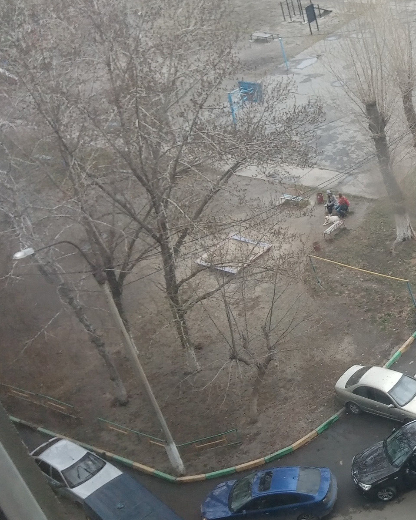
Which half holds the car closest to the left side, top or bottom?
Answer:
bottom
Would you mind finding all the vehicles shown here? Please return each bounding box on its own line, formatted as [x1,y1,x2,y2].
[24,436,131,518]
[196,464,341,520]
[86,478,181,520]
[350,417,416,500]
[327,362,416,421]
